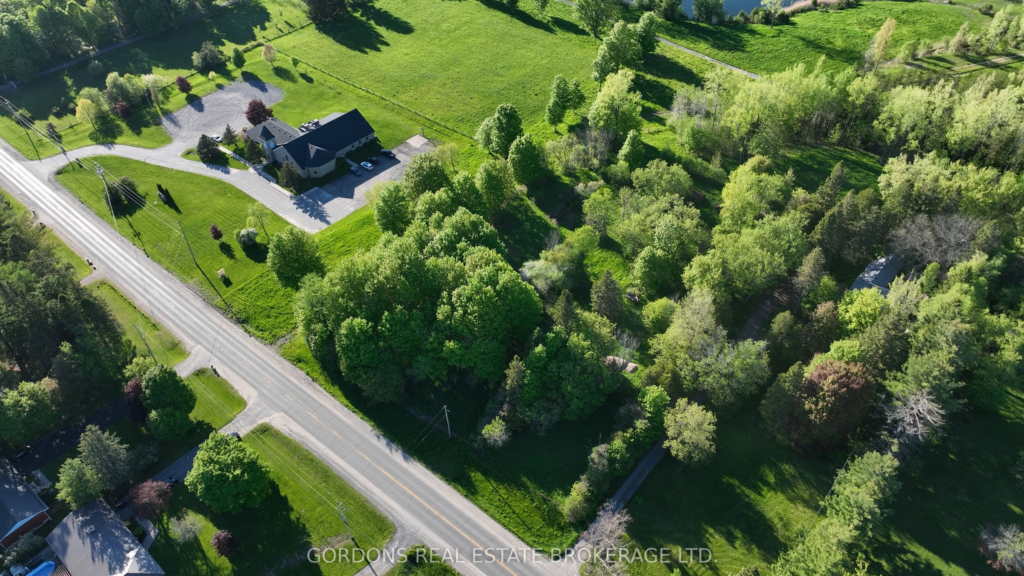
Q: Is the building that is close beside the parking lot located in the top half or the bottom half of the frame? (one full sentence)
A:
Seen from above, the building that is close beside the parking lot lies in the top half of the view.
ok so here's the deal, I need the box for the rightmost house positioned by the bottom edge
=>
[44,498,172,576]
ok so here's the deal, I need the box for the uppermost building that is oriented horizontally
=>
[244,108,375,178]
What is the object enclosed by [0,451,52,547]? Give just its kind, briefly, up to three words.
house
